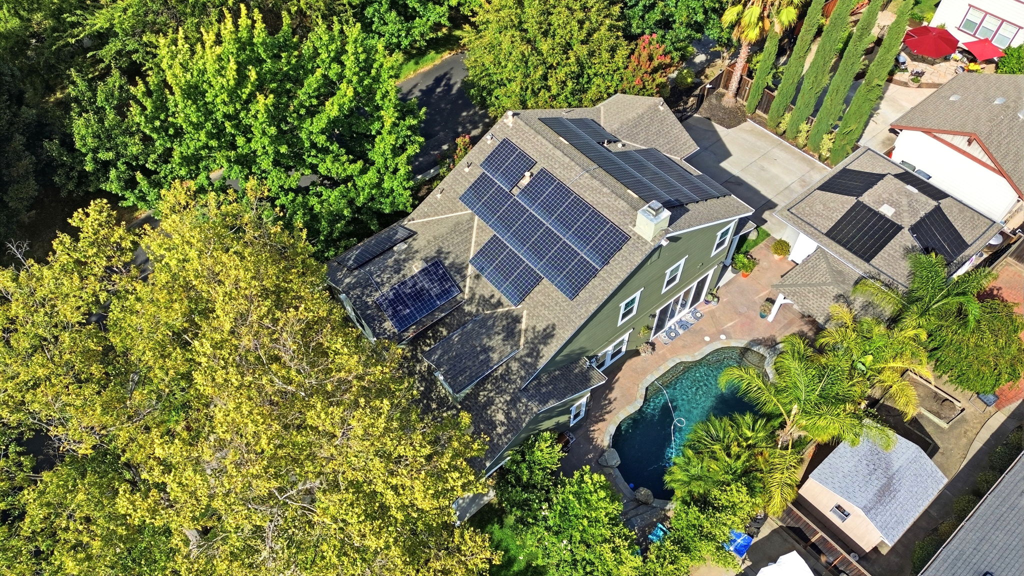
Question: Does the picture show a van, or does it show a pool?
pool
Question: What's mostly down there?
trees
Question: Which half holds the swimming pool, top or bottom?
bottom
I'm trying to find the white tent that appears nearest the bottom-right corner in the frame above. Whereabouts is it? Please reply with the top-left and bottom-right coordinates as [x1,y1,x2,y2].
[765,549,826,576]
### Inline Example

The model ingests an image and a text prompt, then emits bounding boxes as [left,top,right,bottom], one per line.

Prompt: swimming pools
[604,340,777,545]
